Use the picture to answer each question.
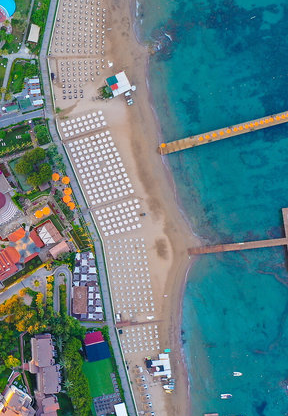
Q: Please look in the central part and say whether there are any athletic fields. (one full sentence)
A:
No, no athletic field is visible in the central part.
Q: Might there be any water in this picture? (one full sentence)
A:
Yes, there's water in this view.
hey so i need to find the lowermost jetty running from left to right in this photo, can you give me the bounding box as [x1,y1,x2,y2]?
[188,238,284,255]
